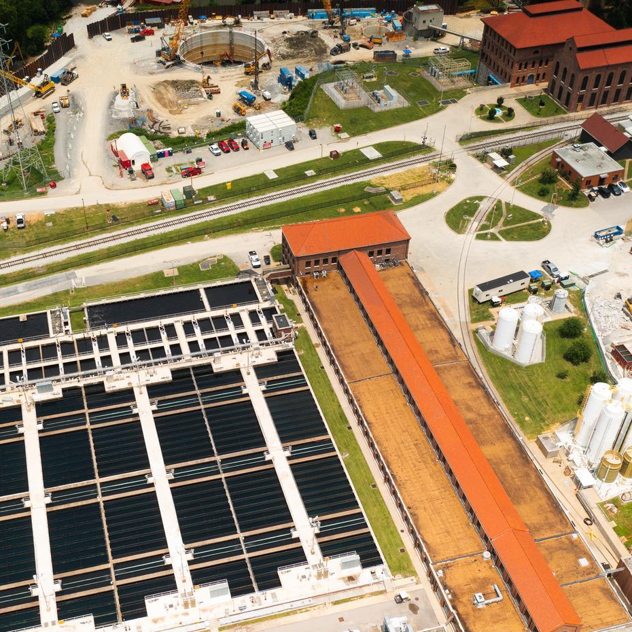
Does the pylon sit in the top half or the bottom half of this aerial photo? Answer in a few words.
top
